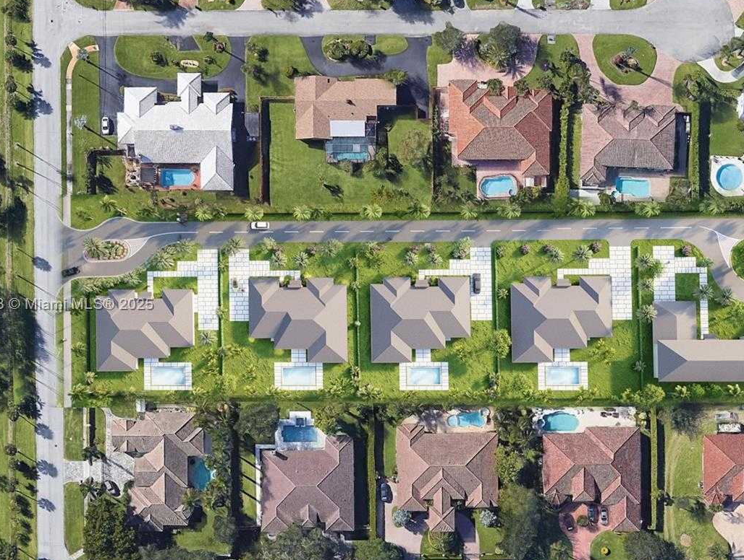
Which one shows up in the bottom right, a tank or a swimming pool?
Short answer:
swimming pool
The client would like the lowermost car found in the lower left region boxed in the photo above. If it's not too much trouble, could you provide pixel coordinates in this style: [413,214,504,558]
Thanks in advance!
[106,480,119,497]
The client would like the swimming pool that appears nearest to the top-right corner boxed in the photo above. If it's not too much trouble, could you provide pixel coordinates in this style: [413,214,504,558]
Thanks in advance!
[715,163,743,191]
